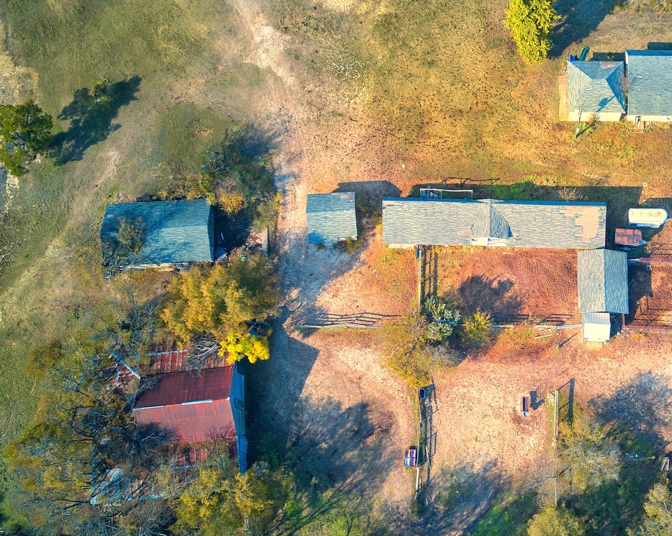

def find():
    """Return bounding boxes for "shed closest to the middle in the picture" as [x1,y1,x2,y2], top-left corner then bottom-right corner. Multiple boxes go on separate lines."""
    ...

[307,191,358,248]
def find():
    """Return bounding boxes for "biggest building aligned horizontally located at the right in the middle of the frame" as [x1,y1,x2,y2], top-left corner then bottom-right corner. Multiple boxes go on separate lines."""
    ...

[381,195,606,257]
